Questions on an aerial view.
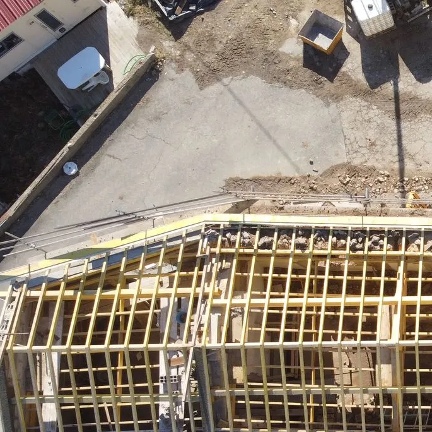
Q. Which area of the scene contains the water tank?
top right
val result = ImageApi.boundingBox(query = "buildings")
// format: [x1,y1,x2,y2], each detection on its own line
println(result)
[0,212,432,432]
[0,0,105,82]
